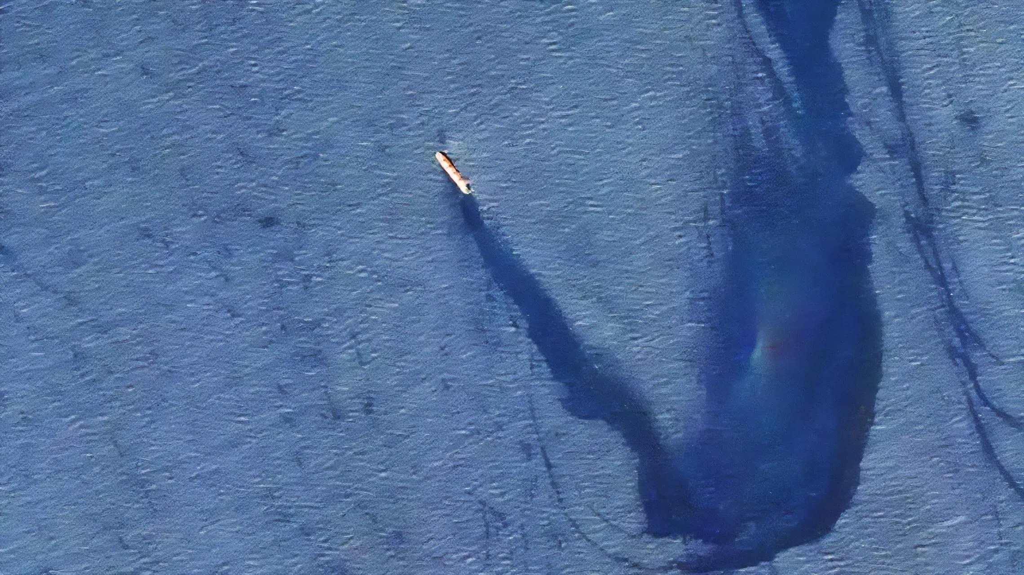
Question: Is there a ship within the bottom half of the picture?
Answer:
No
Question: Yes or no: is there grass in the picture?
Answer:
No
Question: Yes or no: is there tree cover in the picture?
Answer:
No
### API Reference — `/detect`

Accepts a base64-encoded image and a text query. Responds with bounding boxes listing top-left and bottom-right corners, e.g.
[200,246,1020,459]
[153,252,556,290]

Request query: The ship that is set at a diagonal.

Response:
[437,152,471,195]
